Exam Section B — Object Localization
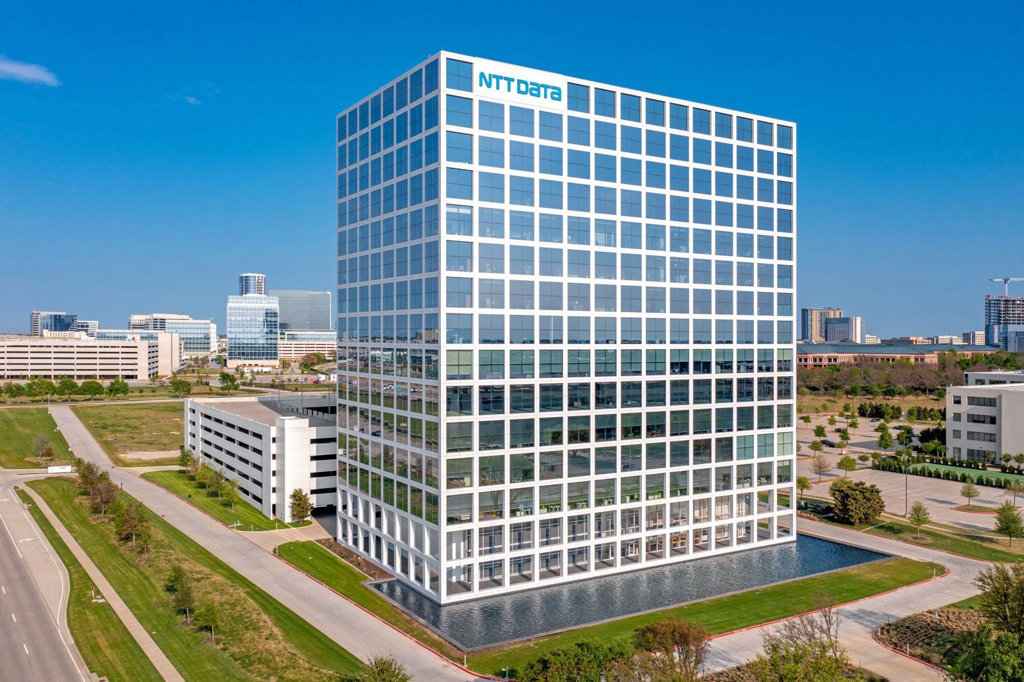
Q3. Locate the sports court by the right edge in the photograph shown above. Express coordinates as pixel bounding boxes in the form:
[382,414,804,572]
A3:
[900,462,1024,492]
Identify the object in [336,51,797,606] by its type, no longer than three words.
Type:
building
